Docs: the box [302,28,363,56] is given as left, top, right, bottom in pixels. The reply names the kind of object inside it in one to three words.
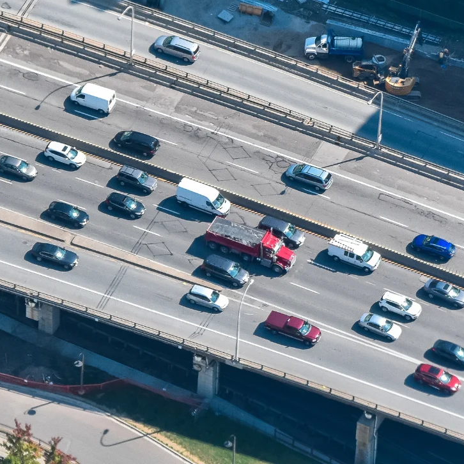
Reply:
truck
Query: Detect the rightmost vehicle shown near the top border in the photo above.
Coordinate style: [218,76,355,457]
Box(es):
[384,14,430,94]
